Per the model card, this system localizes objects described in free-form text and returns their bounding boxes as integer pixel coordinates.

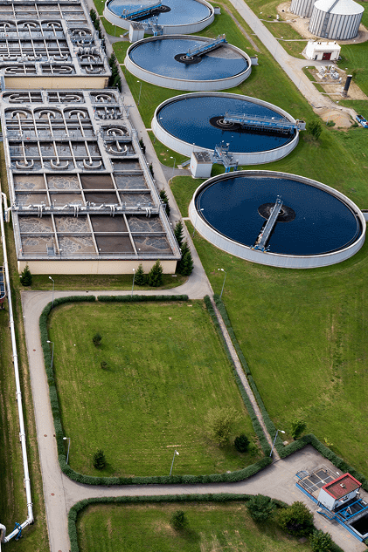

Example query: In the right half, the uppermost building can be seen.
[302,40,343,60]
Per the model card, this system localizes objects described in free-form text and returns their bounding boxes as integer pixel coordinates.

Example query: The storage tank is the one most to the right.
[306,0,368,40]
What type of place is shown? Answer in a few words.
industrial area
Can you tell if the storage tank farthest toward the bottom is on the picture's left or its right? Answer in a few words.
right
